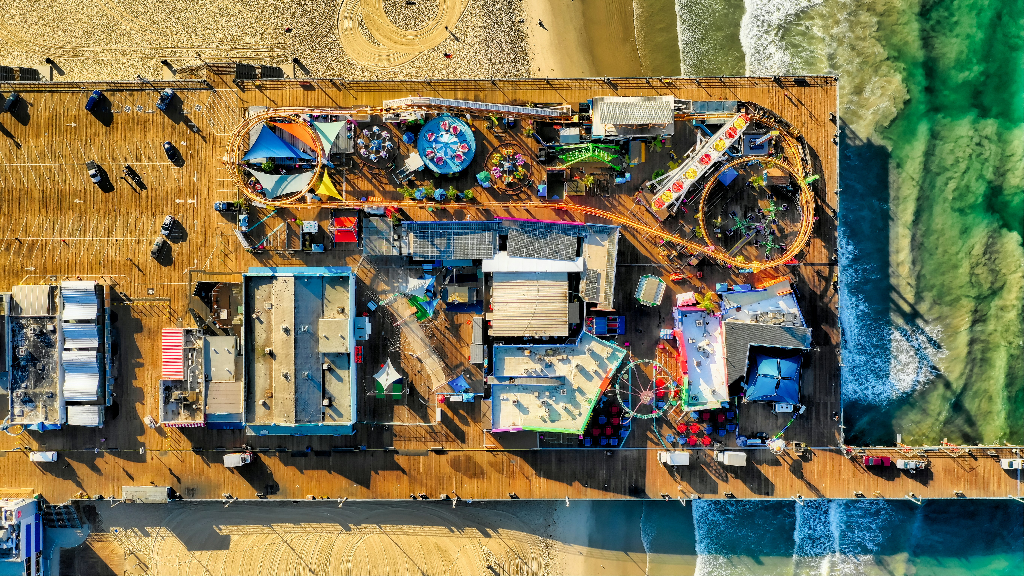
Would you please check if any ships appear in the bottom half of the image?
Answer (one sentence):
No, looking in the bottom half of the image, there is no ship.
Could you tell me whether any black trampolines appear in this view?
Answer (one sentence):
No, no black trampoline is visible in the scene.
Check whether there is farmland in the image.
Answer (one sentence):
No, there is no farmland in the image.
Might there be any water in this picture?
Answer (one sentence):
Yes, some water is visible.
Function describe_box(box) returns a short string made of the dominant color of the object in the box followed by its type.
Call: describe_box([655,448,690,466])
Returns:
white vehicle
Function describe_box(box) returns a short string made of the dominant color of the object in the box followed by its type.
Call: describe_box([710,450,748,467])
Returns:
white vehicle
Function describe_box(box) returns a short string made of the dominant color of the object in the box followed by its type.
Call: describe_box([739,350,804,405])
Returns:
blue tent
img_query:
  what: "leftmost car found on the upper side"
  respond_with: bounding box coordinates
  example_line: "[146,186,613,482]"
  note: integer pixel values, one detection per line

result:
[1,91,21,115]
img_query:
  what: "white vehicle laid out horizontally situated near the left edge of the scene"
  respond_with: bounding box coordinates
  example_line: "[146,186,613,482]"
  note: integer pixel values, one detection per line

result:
[30,451,59,463]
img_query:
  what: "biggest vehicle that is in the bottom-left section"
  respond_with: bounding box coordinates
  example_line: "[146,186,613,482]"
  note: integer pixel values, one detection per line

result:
[221,449,259,467]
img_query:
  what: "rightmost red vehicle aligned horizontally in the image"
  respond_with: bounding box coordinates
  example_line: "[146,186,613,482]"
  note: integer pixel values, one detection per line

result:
[862,455,890,467]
